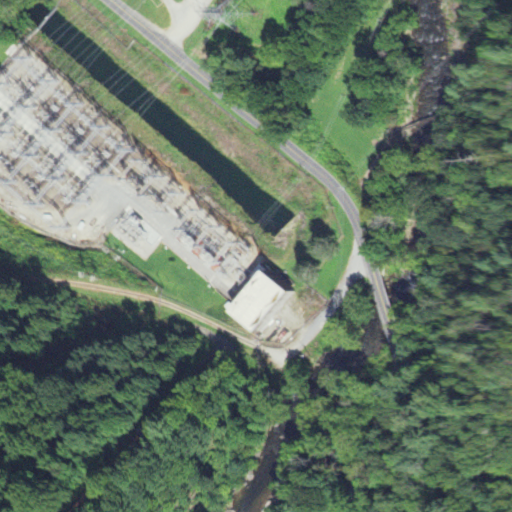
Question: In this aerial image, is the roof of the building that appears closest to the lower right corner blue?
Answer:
No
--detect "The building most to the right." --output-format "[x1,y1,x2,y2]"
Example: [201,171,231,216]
[224,269,294,330]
